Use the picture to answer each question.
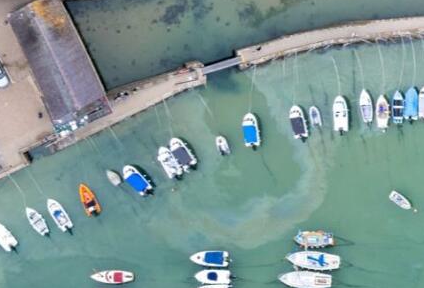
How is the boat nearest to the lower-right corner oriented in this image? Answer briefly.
diagonally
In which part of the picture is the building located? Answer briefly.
top left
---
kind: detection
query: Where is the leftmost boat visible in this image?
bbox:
[0,224,18,253]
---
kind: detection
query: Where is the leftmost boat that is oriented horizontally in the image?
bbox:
[91,269,140,284]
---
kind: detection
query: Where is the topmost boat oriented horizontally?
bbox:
[295,230,340,248]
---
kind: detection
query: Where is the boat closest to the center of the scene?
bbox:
[217,135,232,159]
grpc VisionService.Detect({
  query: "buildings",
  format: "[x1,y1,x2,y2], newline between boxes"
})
[8,0,112,130]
